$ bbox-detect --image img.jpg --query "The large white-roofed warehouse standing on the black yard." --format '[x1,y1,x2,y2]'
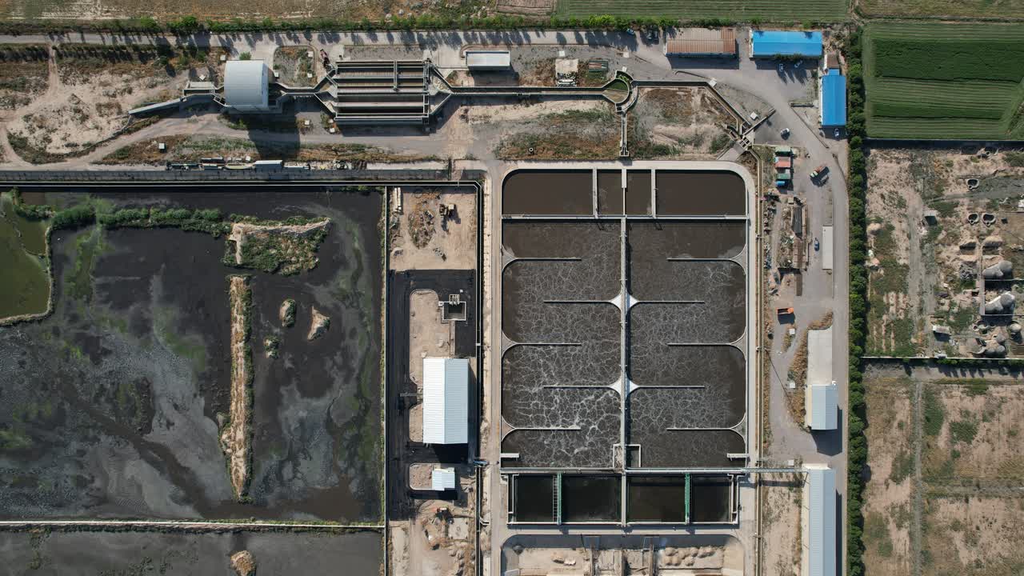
[423,357,469,445]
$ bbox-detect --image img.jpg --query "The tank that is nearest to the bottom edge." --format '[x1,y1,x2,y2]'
[507,472,744,527]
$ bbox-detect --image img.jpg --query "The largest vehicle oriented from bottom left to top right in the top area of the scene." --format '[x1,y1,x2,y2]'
[808,162,829,178]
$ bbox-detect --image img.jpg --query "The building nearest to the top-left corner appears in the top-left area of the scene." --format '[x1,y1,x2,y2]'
[223,60,288,117]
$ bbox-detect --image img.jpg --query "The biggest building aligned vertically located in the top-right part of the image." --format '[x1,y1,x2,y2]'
[820,69,846,127]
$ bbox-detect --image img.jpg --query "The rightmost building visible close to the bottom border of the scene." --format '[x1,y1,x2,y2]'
[799,464,837,576]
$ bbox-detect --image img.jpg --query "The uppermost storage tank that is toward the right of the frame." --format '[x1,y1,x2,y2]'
[602,70,638,113]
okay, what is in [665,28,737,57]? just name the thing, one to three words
building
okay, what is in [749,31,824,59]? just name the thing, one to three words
building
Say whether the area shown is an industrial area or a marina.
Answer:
industrial area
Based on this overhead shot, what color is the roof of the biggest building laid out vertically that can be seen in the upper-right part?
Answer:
blue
